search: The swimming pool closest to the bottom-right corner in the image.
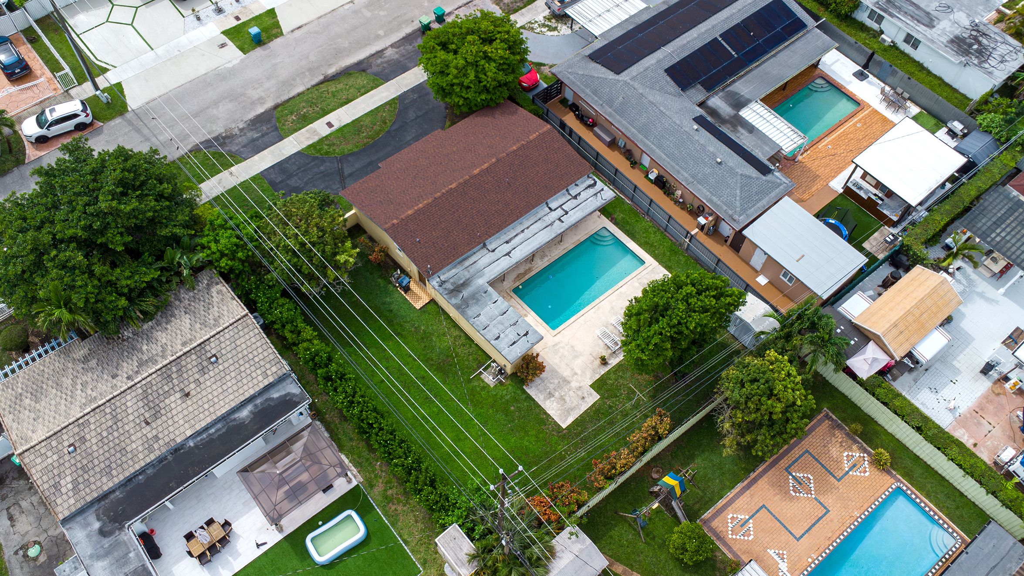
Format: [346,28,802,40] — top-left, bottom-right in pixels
[798,480,966,576]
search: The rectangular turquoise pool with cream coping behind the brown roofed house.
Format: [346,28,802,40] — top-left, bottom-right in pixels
[507,221,651,335]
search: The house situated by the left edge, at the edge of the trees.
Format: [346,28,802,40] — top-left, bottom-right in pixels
[0,264,314,576]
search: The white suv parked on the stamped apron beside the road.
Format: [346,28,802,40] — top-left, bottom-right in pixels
[23,102,92,144]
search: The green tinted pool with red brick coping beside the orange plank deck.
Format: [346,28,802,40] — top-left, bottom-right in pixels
[751,72,865,160]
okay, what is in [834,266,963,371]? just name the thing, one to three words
building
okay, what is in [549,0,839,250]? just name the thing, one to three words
house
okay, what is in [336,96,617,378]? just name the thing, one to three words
house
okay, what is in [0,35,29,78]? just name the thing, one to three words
car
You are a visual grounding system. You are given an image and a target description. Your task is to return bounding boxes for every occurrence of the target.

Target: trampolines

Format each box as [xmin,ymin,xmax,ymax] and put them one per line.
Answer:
[820,206,863,246]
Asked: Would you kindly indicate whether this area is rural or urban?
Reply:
urban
